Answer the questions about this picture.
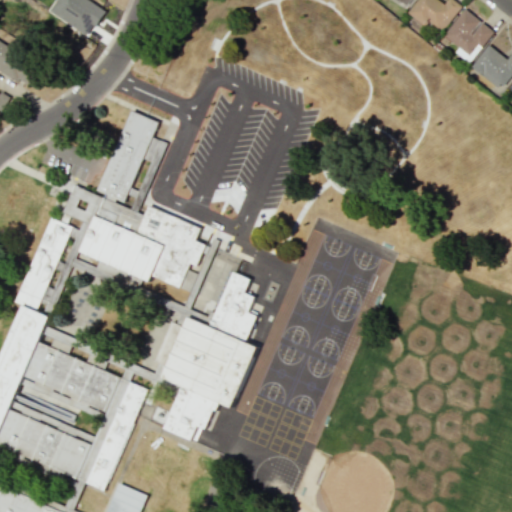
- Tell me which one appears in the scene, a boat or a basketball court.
basketball court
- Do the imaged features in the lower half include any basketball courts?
Yes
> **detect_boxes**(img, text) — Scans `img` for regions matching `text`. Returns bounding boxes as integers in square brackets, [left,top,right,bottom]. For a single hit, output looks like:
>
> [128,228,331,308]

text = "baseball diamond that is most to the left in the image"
[318,451,394,512]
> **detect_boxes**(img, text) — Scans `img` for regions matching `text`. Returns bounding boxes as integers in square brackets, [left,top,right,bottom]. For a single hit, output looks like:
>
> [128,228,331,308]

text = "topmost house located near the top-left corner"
[49,0,106,36]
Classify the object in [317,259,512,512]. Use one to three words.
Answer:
sports field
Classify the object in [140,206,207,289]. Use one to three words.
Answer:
building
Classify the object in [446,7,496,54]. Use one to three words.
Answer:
house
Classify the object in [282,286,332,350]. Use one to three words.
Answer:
basketball court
